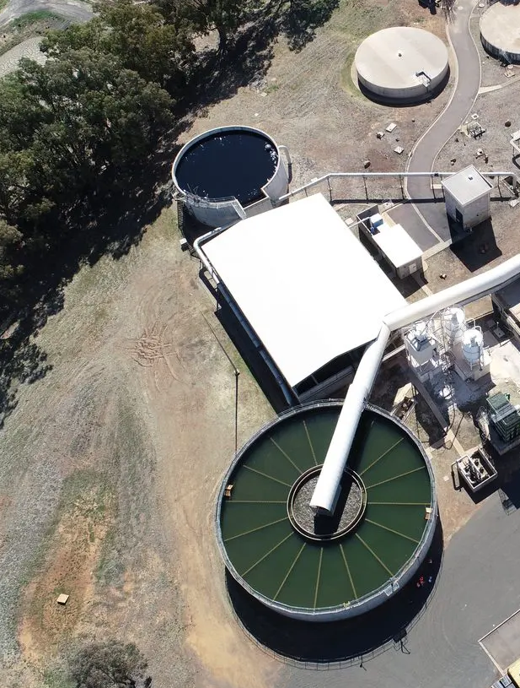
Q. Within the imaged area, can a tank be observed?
Yes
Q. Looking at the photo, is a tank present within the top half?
Yes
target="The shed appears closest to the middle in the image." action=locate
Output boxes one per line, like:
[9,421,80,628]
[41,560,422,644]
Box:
[201,193,413,402]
